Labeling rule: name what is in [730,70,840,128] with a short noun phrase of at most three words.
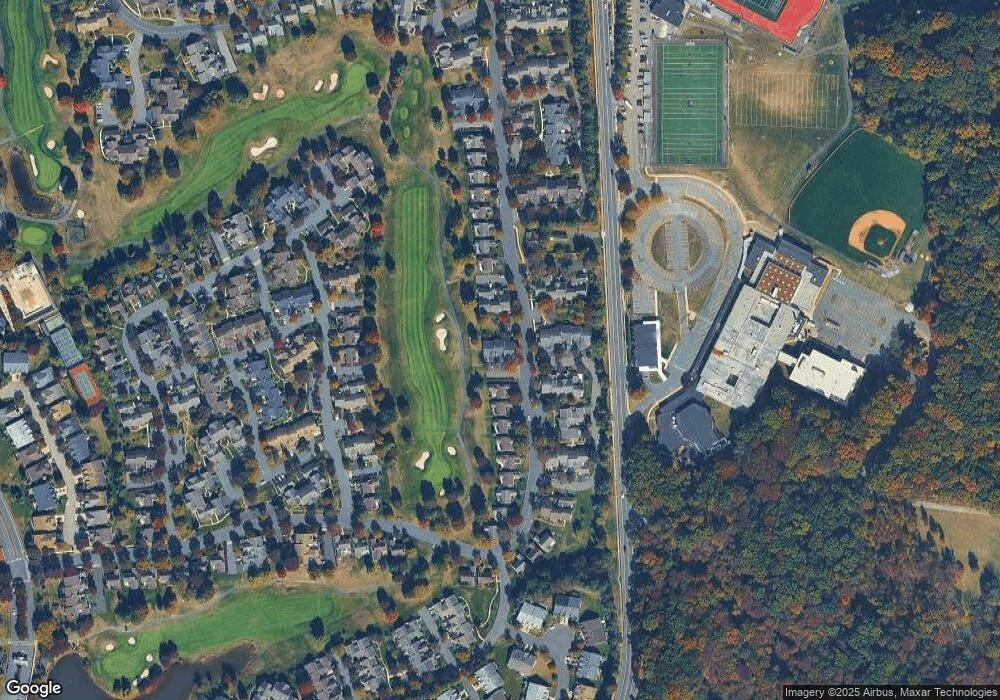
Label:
sports field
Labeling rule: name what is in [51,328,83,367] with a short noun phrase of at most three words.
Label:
tennis court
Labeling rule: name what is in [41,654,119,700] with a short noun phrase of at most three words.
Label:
pond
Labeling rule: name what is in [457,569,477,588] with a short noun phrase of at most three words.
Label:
house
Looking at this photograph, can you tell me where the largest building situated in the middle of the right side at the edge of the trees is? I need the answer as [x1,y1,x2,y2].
[696,236,830,407]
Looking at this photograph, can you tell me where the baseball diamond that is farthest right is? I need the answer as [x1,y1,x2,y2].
[789,130,925,266]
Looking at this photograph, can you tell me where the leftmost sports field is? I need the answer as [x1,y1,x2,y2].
[650,37,729,168]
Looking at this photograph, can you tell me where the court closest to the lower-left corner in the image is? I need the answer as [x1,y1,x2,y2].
[69,363,103,407]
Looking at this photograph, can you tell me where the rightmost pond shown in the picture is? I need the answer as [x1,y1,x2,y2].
[144,641,253,700]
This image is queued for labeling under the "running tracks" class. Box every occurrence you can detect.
[712,0,822,43]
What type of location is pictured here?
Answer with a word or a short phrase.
residential area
